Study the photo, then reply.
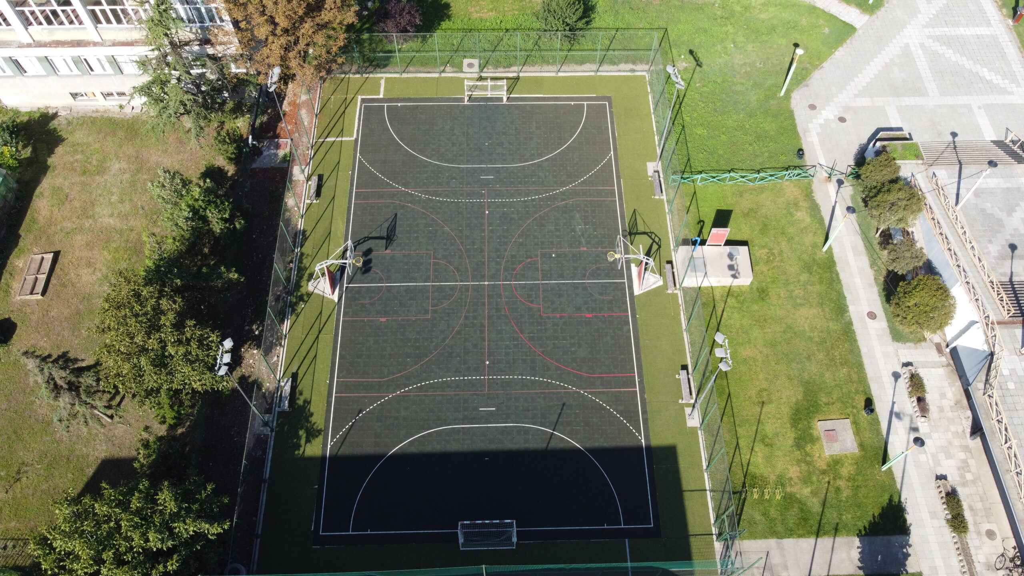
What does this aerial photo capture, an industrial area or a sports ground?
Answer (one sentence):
This image shows a sports ground.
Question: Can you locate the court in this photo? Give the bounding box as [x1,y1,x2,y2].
[248,71,726,576]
